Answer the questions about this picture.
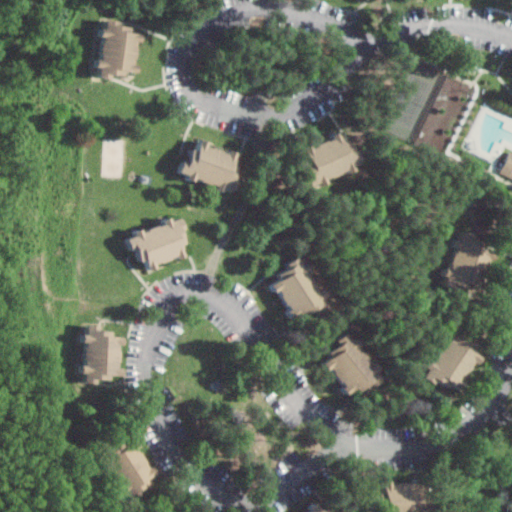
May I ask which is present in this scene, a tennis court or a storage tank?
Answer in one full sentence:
Visible in the photo is a tennis court.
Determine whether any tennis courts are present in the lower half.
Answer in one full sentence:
No, there's no tennis court to be seen in the lower half.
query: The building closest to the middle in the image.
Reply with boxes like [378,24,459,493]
[270,258,327,319]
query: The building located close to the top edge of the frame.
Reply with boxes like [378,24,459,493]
[98,20,142,80]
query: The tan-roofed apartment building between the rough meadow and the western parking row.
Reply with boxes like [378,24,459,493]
[82,326,124,384]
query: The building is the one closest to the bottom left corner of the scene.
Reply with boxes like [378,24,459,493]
[110,444,158,496]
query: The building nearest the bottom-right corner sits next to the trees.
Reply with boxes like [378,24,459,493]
[380,480,434,512]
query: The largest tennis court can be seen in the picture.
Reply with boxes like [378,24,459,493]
[382,72,440,142]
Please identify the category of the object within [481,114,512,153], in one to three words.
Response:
swimming pool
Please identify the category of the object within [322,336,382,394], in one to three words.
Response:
building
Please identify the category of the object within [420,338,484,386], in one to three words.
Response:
building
